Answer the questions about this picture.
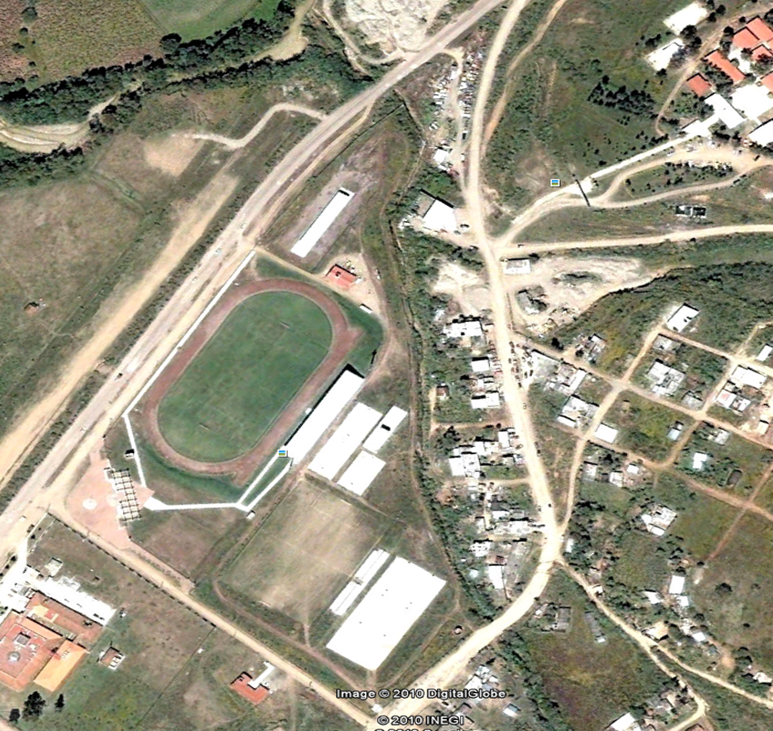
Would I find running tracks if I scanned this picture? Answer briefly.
Yes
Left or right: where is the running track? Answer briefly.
left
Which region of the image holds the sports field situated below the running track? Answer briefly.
bottom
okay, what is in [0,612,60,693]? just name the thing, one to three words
building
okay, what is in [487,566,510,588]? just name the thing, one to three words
house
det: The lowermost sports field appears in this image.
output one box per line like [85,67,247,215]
[230,480,392,622]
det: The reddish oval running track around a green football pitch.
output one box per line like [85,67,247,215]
[151,271,362,483]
